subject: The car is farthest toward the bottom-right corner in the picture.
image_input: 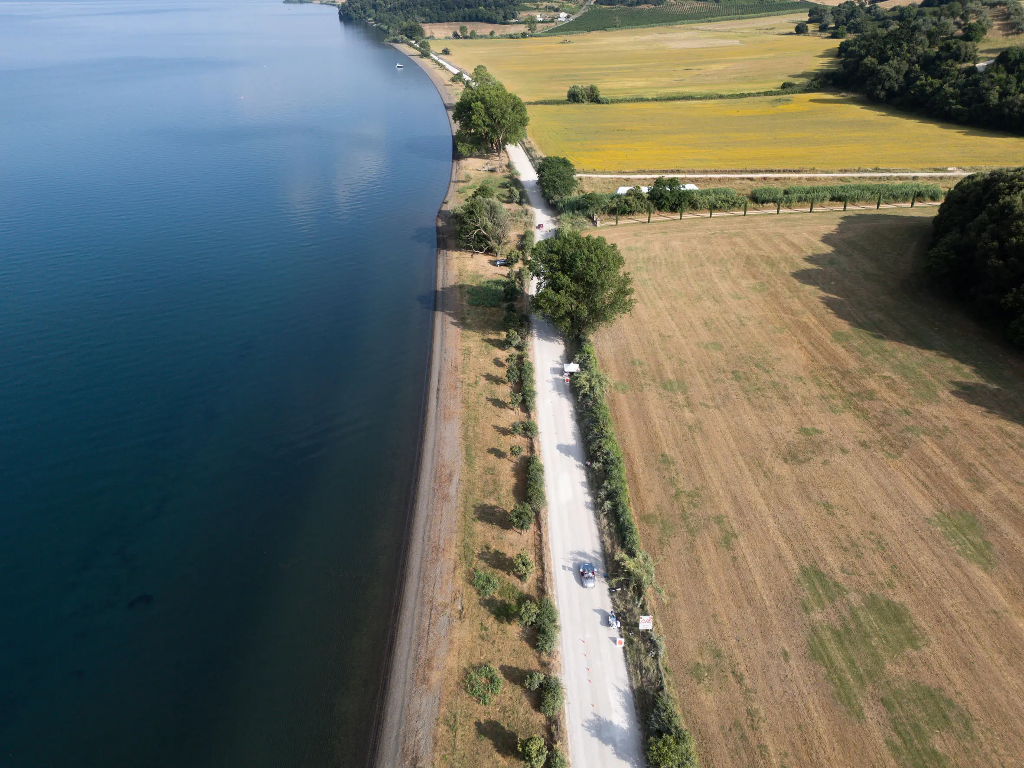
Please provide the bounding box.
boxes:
[580,560,598,591]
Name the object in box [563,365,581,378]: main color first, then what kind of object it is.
white gazebo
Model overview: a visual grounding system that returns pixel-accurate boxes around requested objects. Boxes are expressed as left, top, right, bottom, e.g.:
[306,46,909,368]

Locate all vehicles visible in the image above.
[580,560,598,591]
[492,258,514,267]
[537,223,544,230]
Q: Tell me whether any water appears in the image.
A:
Yes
